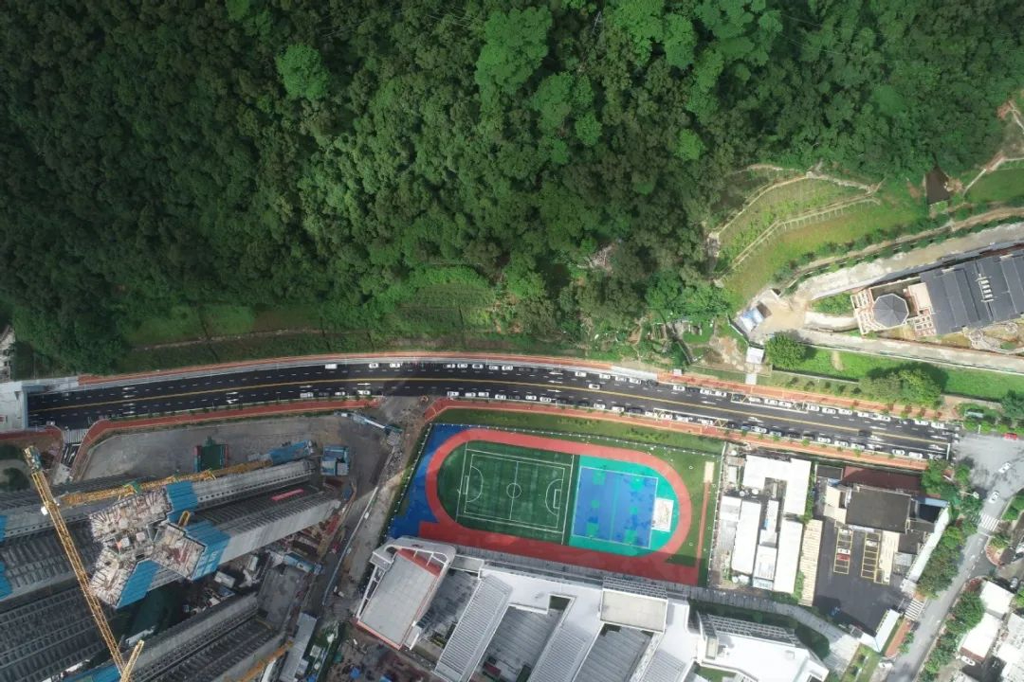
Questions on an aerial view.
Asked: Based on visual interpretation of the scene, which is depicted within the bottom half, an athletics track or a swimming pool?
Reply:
athletics track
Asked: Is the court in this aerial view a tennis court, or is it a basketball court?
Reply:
basketball court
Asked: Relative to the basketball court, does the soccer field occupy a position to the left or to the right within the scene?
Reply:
left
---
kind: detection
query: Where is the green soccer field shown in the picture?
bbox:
[437,441,579,548]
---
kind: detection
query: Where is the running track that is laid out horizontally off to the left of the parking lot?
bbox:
[418,429,697,586]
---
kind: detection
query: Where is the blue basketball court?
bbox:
[571,455,678,558]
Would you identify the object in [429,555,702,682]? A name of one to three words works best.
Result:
building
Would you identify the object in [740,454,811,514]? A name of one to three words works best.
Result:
building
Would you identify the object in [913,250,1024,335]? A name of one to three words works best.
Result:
house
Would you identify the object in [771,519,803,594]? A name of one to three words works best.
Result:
shed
